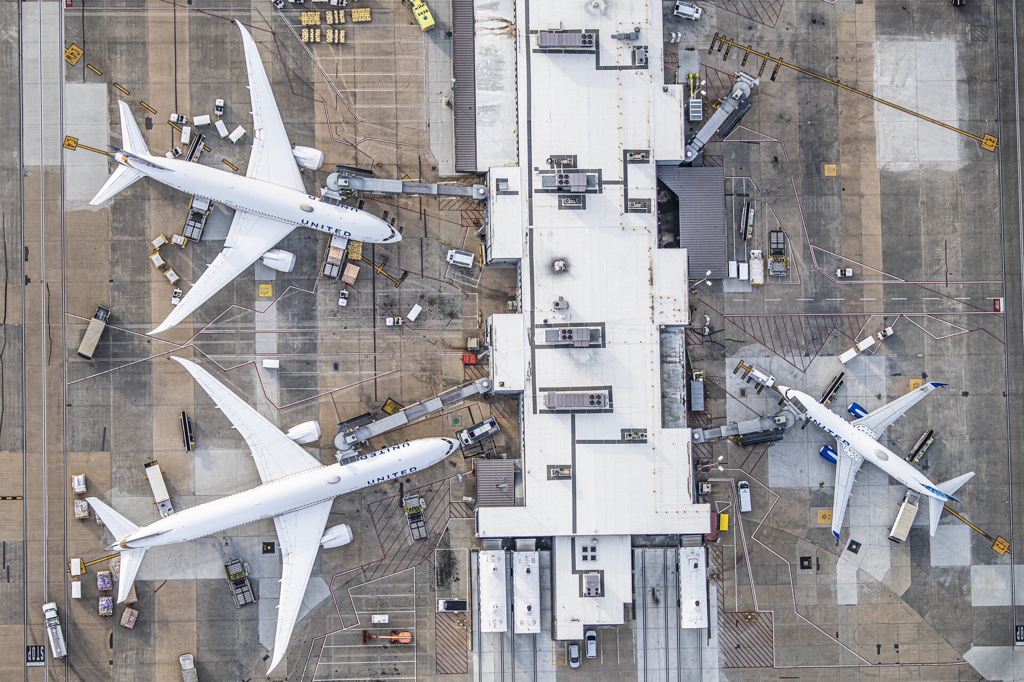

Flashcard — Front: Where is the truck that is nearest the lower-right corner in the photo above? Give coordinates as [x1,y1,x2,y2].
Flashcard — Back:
[885,488,917,543]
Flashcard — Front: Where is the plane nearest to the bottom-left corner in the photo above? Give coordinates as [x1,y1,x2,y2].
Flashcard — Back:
[83,356,462,676]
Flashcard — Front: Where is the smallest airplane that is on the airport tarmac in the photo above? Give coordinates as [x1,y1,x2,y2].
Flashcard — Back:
[777,382,978,548]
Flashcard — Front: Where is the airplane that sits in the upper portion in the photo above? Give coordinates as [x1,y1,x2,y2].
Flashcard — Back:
[87,20,404,337]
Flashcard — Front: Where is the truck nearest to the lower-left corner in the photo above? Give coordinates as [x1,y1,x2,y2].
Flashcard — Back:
[42,602,68,659]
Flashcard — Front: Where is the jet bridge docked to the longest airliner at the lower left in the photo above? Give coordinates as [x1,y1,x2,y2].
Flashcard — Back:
[333,375,491,465]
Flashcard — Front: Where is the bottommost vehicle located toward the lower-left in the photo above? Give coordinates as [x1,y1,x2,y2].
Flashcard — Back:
[177,652,197,682]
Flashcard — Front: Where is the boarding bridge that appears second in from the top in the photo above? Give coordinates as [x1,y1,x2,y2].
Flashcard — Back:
[320,165,488,205]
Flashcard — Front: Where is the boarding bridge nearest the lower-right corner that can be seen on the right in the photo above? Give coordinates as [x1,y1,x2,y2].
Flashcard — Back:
[690,396,807,446]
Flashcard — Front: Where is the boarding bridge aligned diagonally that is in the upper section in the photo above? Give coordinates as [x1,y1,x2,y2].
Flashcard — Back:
[680,71,759,165]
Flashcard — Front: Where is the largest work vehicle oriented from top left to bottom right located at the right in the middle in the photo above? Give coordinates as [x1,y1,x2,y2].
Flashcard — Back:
[746,363,778,389]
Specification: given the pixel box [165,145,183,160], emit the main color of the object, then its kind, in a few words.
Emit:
white work vehicle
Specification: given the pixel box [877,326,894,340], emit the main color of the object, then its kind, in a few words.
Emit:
white work vehicle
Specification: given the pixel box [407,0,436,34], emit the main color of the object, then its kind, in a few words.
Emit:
yellow van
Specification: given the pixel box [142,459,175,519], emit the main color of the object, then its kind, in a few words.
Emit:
white truck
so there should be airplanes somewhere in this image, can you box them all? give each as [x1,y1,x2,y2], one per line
[87,20,404,337]
[777,382,978,548]
[83,356,462,676]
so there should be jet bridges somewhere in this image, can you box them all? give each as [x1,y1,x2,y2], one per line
[690,396,807,446]
[333,375,491,465]
[680,71,759,165]
[320,165,488,205]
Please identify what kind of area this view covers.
airport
